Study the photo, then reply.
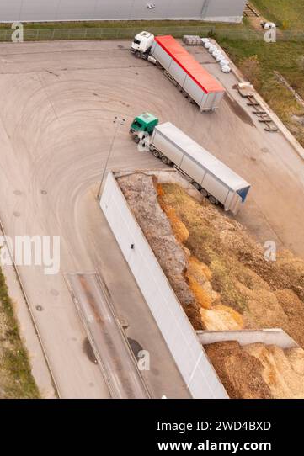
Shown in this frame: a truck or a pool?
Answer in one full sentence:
It is a truck that can be seen here.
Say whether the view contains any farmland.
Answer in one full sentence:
No, there's no farmland in this view.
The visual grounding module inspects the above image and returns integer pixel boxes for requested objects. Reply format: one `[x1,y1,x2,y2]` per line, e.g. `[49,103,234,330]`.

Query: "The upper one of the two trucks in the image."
[140,37,225,112]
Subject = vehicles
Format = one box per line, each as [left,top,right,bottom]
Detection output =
[140,37,225,112]
[134,120,252,214]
